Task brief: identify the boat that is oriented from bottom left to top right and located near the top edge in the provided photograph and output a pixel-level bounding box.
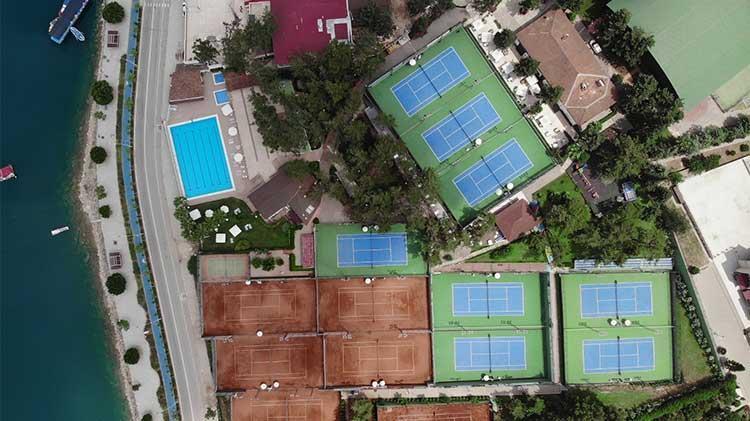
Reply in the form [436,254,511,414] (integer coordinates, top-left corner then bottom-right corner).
[48,0,97,49]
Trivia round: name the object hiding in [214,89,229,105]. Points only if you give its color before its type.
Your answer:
blue swimming pool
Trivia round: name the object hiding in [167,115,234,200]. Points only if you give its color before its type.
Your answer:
blue swimming pool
